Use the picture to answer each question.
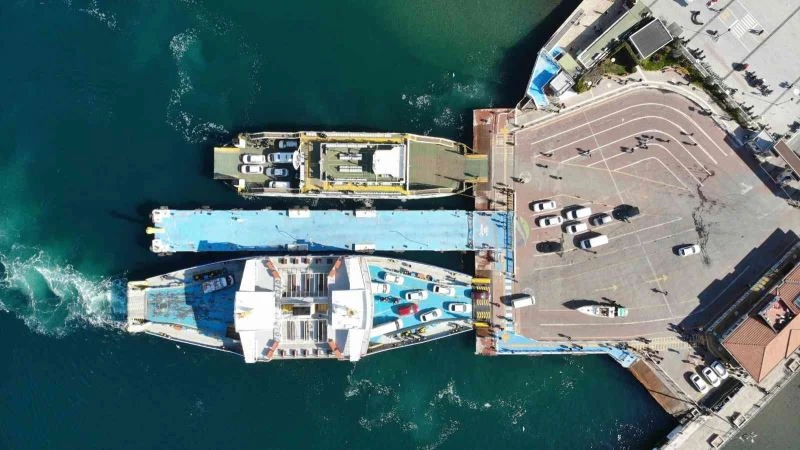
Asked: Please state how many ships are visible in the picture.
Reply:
3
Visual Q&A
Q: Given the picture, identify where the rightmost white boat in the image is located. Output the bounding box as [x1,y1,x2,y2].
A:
[577,305,628,318]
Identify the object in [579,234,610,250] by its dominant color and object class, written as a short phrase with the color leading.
white vehicle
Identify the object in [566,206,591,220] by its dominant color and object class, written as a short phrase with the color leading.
white vehicle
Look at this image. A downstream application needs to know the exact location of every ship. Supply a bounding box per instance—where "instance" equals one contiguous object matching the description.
[145,205,498,255]
[128,254,492,363]
[214,131,488,199]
